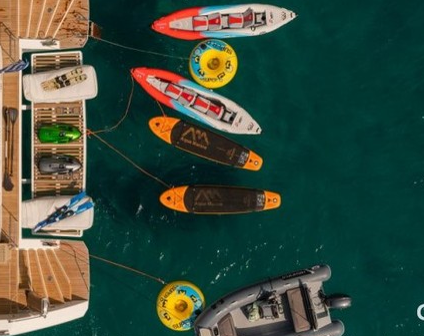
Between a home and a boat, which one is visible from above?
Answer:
boat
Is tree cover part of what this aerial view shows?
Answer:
No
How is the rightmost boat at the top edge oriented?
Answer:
from left to right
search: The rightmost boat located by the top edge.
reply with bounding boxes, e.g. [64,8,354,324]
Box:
[151,3,296,39]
